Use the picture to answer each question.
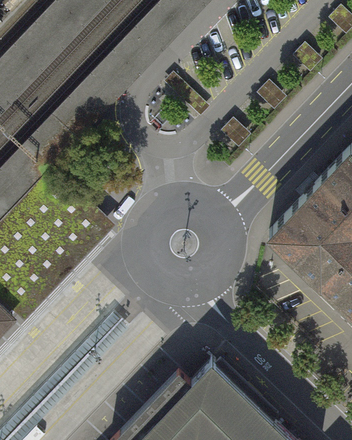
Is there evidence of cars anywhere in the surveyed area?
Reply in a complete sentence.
Yes, there's a car here.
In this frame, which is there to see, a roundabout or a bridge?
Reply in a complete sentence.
I can see a roundabout in this picture.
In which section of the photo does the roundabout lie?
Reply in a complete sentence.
The roundabout sits in the center section of the image.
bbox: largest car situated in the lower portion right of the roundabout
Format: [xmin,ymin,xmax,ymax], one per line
[280,294,304,308]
